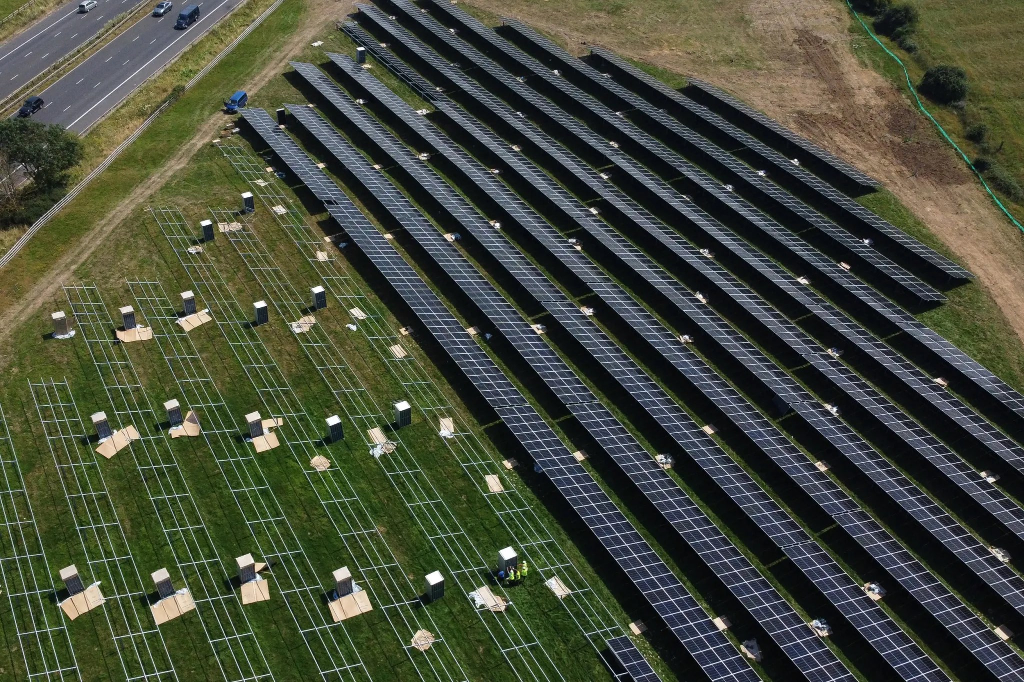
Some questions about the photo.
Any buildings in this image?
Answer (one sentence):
No, no building is visible in the scene.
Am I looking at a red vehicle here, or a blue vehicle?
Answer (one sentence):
There is a blue vehicle in the scene.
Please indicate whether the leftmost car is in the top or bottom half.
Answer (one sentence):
You can find the leftmost car in the top half.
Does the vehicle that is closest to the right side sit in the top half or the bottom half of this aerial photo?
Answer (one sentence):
It is in the top half that the vehicle that is closest to the right side appears.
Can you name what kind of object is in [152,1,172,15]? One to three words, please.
car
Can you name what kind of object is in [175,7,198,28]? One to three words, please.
vehicle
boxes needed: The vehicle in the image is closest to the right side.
[220,87,250,113]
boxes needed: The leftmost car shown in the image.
[16,93,44,116]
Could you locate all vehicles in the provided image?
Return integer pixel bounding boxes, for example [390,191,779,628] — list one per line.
[220,87,250,113]
[16,93,44,116]
[77,0,98,12]
[175,7,198,28]
[152,1,172,15]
